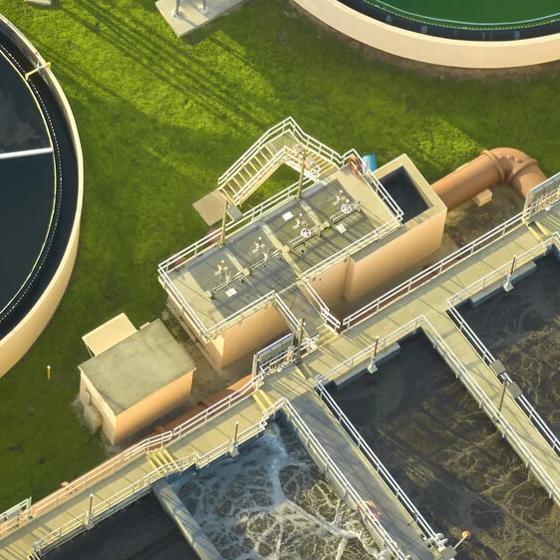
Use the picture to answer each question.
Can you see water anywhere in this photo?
Yes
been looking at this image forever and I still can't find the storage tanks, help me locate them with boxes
[292,0,560,69]
[0,15,84,381]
